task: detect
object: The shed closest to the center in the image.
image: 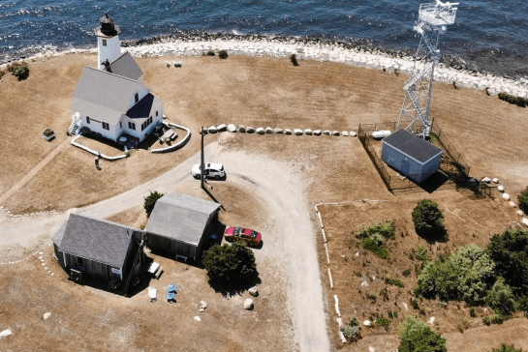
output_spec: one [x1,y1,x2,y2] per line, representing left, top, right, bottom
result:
[146,192,221,259]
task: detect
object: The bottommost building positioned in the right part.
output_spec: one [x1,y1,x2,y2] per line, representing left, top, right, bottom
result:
[381,128,443,183]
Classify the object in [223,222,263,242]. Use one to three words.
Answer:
car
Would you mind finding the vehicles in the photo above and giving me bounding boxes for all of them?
[192,158,226,174]
[223,222,263,242]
